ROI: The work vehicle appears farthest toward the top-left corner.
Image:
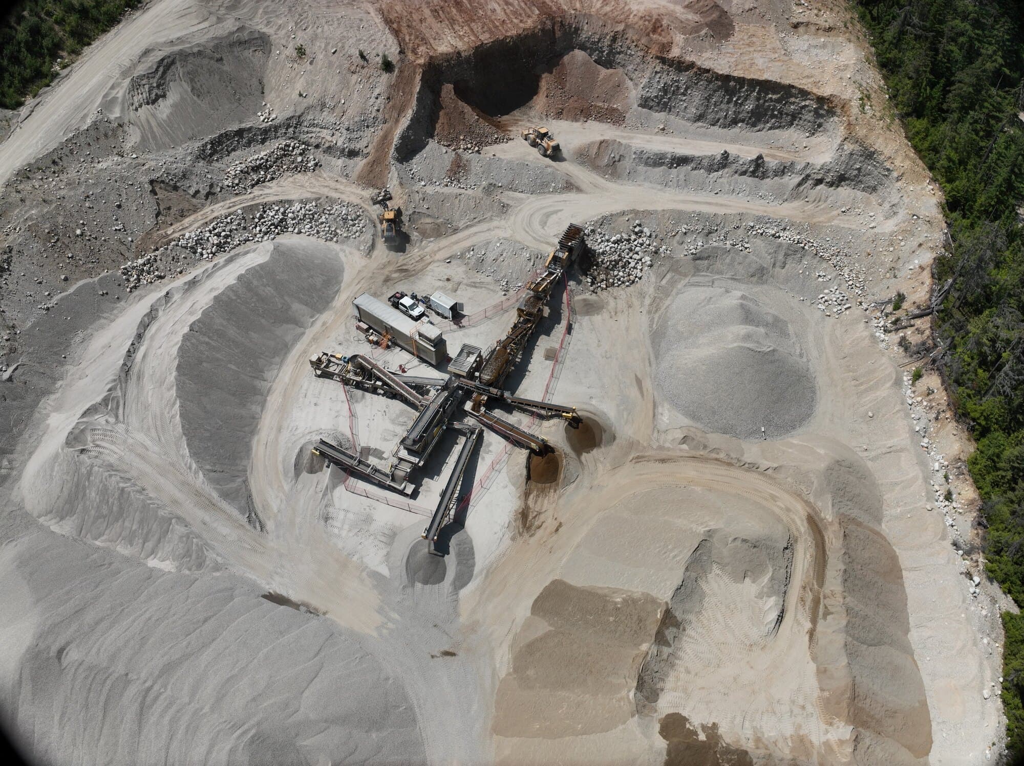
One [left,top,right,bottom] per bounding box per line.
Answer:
[369,200,402,245]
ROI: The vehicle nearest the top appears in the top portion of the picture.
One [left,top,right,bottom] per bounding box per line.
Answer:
[516,130,562,157]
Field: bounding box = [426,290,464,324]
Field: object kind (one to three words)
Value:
trailer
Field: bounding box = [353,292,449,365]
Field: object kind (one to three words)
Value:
trailer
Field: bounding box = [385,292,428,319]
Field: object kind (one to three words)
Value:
truck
